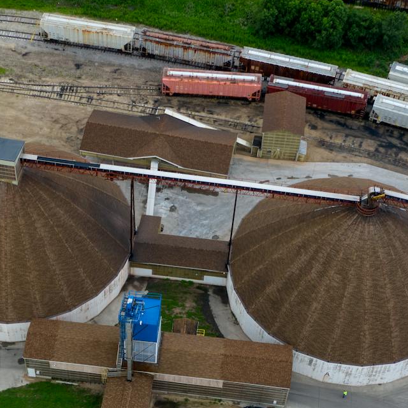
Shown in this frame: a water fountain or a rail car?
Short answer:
rail car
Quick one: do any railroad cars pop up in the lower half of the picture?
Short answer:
No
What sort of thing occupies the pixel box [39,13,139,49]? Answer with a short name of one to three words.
rail car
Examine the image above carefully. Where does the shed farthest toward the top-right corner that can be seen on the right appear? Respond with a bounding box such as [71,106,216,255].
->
[230,93,311,158]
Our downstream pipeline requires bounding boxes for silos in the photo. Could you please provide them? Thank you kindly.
[0,141,133,342]
[227,176,408,385]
